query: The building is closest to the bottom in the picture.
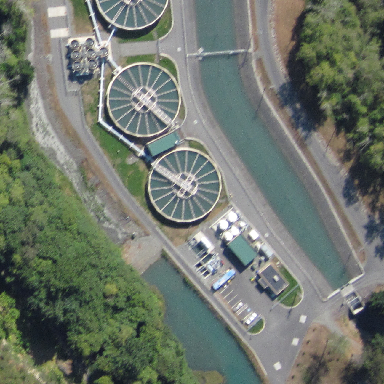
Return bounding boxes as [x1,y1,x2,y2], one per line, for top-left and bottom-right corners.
[257,263,289,295]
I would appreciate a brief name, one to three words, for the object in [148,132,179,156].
building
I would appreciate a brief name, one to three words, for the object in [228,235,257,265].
building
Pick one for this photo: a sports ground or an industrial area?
industrial area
